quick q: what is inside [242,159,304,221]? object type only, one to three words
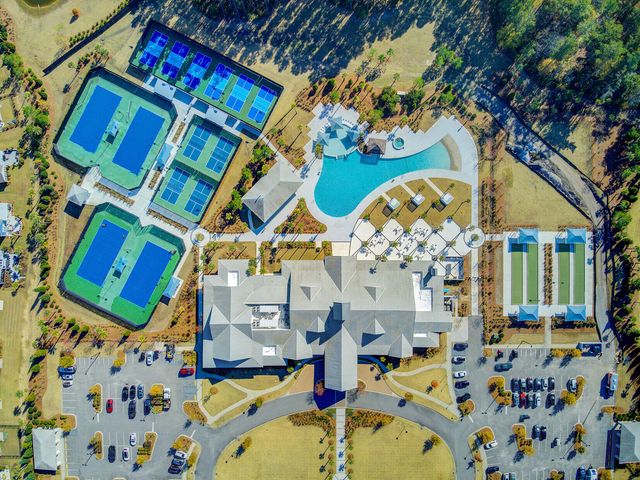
building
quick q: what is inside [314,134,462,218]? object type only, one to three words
swimming pool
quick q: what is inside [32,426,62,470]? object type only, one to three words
building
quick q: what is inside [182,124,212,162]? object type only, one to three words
sports court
